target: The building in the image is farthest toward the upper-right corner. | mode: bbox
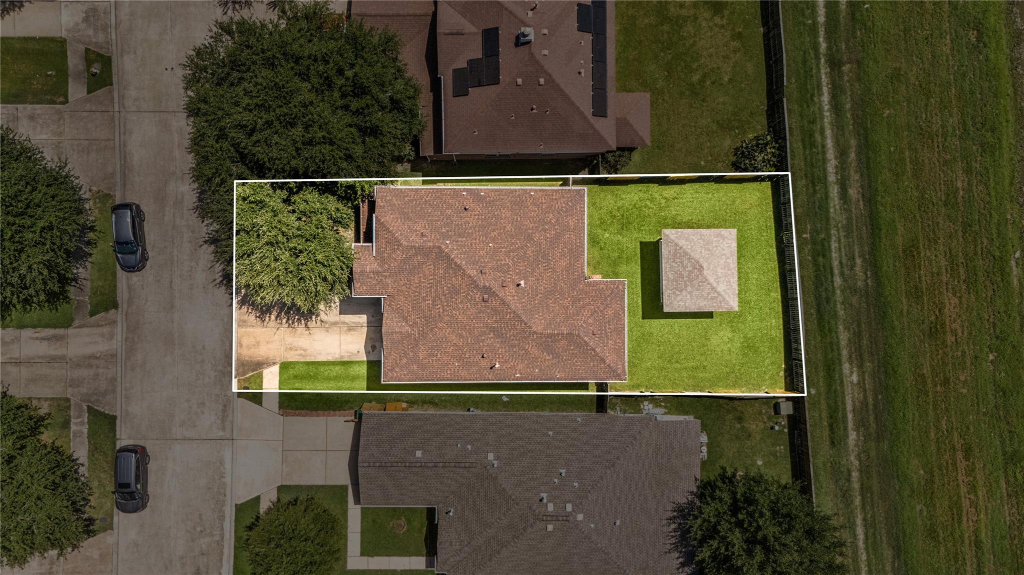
[654,227,739,313]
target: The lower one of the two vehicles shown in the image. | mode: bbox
[113,444,153,511]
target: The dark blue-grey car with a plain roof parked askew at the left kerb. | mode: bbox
[110,201,152,271]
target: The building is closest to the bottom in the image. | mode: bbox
[354,398,700,575]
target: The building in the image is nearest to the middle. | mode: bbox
[350,187,627,383]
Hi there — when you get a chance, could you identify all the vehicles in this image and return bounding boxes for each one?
[110,201,152,271]
[113,444,153,511]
